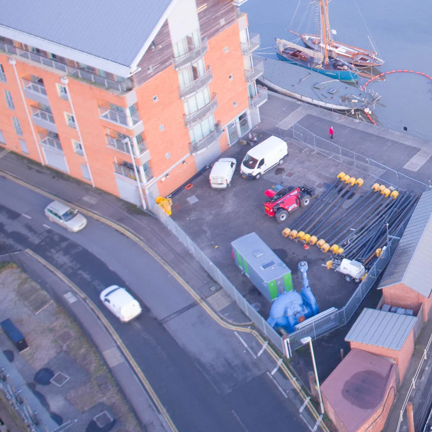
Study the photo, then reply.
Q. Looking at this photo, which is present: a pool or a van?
van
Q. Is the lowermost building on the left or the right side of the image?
right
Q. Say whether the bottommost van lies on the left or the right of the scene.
left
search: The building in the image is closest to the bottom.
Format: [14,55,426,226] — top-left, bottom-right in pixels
[321,349,399,432]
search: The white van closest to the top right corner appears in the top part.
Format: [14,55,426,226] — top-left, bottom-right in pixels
[245,136,286,176]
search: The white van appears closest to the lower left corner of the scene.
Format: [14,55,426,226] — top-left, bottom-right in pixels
[101,286,136,317]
